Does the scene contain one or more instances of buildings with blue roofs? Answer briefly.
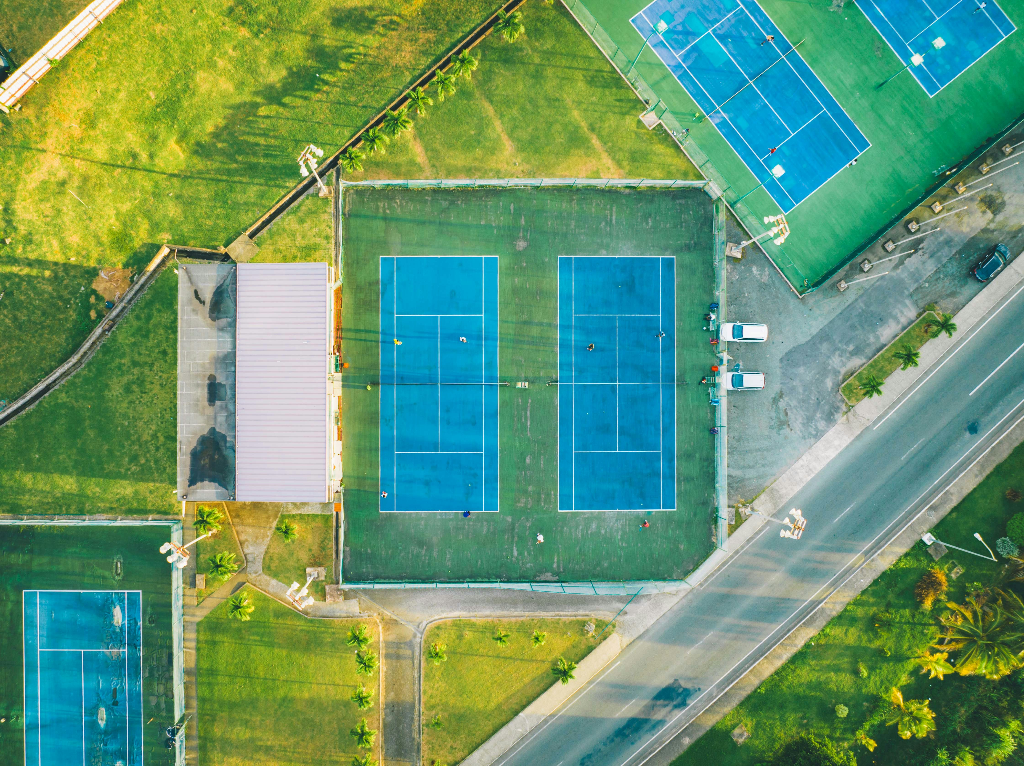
No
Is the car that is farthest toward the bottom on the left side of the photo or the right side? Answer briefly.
right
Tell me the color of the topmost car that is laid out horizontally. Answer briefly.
white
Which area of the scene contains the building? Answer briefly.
left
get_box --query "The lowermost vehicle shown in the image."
[720,369,767,393]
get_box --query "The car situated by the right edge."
[967,239,1011,286]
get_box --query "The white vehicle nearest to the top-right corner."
[718,320,768,344]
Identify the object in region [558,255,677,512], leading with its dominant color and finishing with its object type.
blue tennis court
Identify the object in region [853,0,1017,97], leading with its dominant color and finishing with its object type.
blue tennis court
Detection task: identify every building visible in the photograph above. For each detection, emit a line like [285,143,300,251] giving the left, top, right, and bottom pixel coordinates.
[173,262,334,515]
